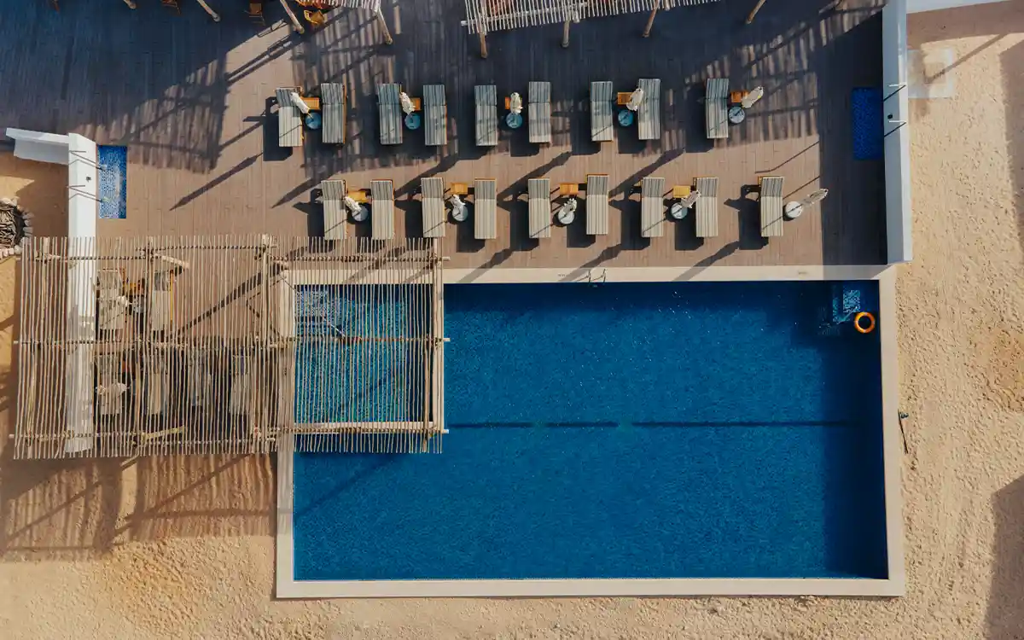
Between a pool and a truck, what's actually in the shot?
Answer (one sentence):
It is a pool that can be seen here.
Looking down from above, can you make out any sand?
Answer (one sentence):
Yes, sand shows up in the scene.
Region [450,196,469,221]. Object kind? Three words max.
umbrella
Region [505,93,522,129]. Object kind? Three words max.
umbrella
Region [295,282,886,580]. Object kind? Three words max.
swimming pool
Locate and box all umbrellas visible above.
[785,194,827,218]
[670,193,698,220]
[399,93,422,130]
[450,196,469,221]
[341,195,369,222]
[289,95,322,130]
[728,89,765,125]
[617,91,639,127]
[505,93,522,129]
[558,202,577,225]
